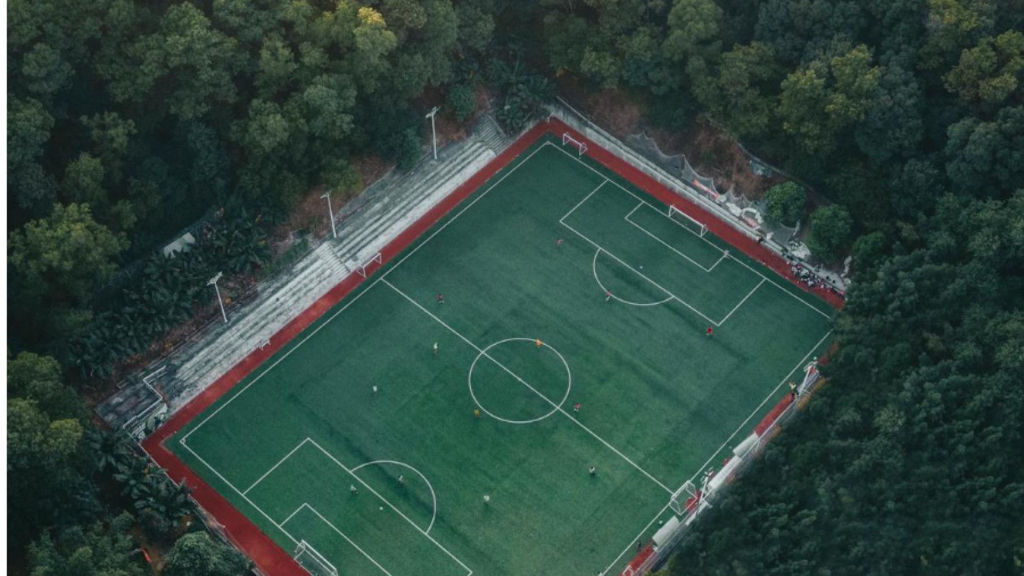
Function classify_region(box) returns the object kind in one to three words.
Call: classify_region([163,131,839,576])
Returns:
sports field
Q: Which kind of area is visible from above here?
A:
sports ground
